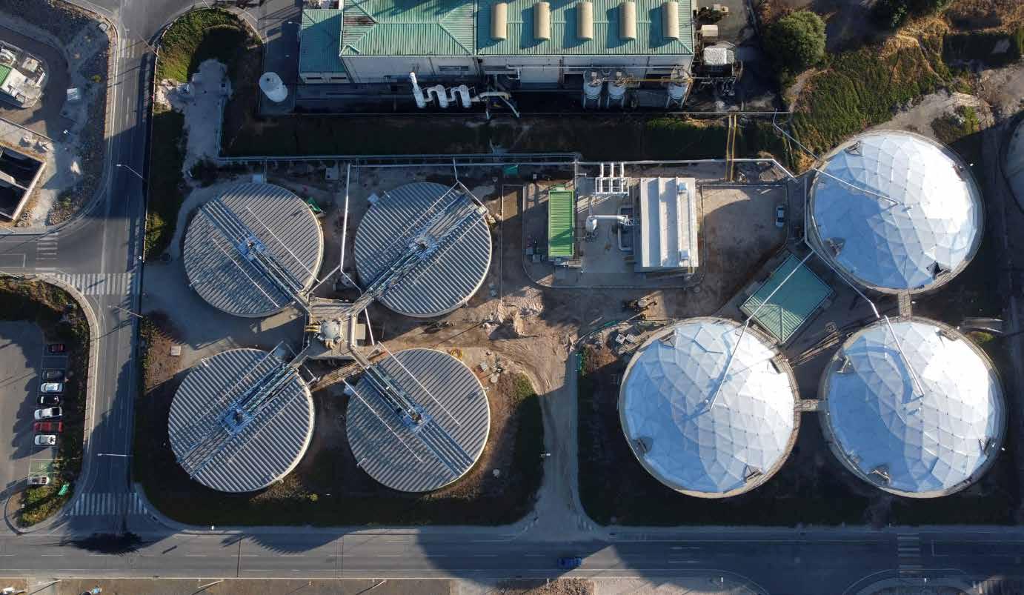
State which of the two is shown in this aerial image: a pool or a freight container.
freight container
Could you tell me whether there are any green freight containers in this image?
Yes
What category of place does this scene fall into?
industrial area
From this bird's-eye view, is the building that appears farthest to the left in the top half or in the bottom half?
top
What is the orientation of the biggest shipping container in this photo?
vertically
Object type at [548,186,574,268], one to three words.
shipping container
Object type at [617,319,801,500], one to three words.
storage tank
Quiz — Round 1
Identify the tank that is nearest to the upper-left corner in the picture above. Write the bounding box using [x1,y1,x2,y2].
[261,70,289,101]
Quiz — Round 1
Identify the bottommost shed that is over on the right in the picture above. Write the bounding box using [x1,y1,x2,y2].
[739,254,833,343]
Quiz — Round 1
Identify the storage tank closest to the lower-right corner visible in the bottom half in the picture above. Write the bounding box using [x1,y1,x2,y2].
[812,318,1007,500]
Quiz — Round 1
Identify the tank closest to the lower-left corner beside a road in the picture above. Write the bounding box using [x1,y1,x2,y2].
[168,344,318,495]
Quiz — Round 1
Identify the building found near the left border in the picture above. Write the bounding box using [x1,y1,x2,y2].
[0,36,45,108]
